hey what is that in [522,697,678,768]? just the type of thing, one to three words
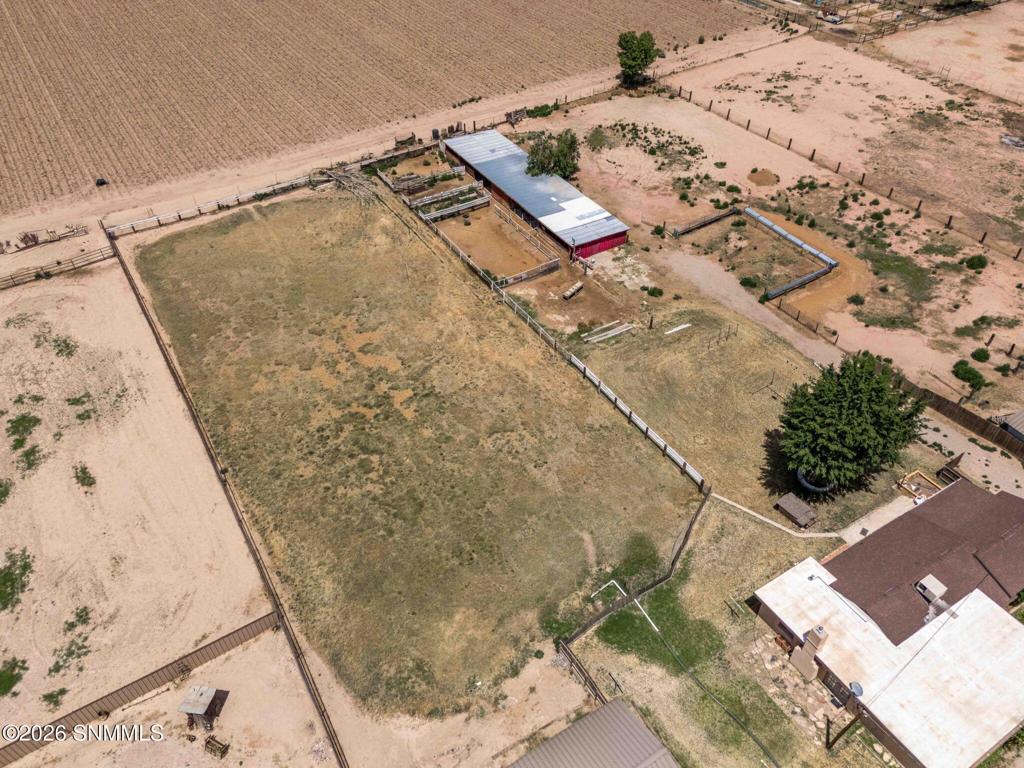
shed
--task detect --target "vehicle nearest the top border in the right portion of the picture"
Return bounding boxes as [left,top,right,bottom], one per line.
[816,8,849,24]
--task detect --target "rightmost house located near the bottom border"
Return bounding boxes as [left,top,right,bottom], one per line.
[753,475,1024,768]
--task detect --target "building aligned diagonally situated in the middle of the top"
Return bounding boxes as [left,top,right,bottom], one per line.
[443,131,633,263]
